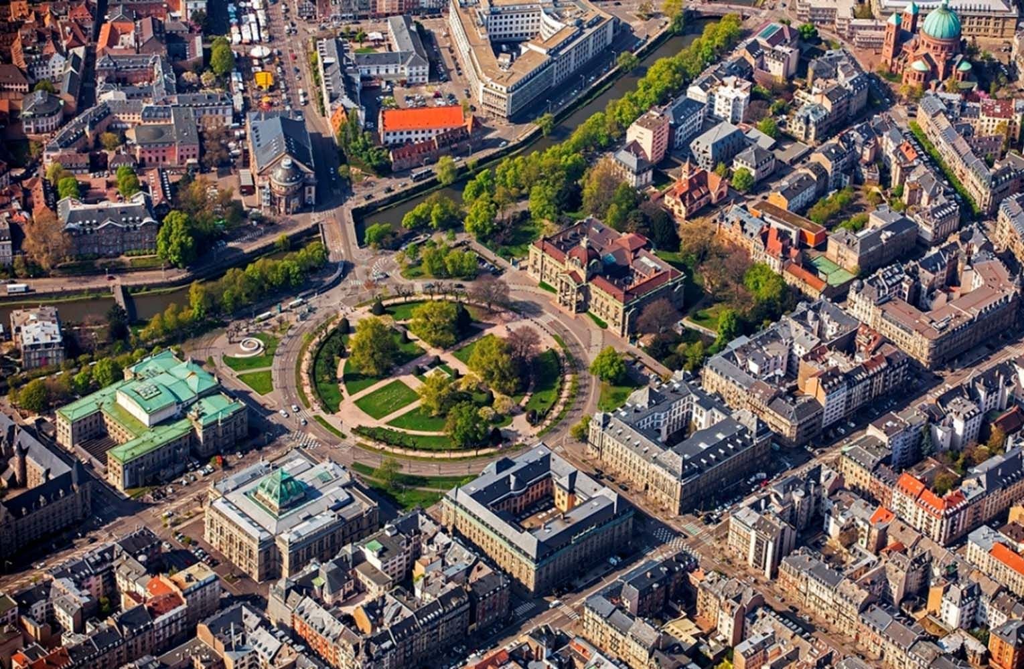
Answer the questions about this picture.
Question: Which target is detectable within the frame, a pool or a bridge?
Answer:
bridge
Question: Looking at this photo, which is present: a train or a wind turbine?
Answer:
train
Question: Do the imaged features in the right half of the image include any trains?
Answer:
No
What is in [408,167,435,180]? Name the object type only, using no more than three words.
vehicle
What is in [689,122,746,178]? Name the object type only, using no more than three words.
building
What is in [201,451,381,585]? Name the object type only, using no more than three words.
building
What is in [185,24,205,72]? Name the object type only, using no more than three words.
house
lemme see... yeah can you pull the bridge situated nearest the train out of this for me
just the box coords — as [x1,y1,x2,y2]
[320,205,364,252]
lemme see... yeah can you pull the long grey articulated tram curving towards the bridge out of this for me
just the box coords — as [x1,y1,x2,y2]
[297,261,345,298]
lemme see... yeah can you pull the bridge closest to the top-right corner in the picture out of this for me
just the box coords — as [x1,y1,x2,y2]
[679,0,764,23]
